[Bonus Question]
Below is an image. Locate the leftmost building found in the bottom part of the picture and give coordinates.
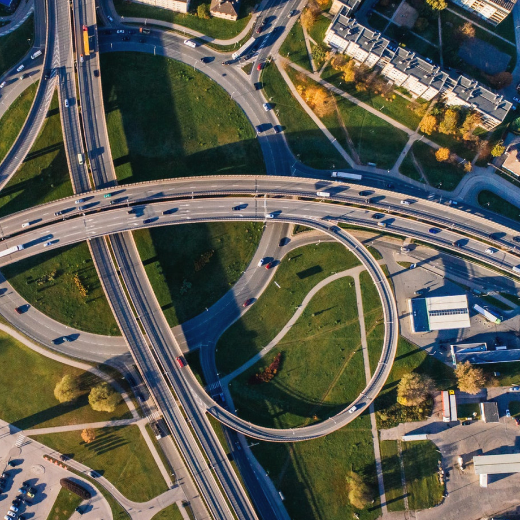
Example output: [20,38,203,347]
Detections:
[409,298,429,333]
